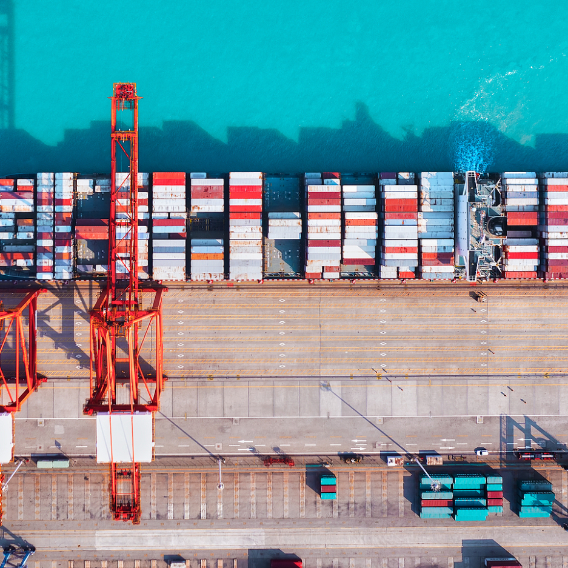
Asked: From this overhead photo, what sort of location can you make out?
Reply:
port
